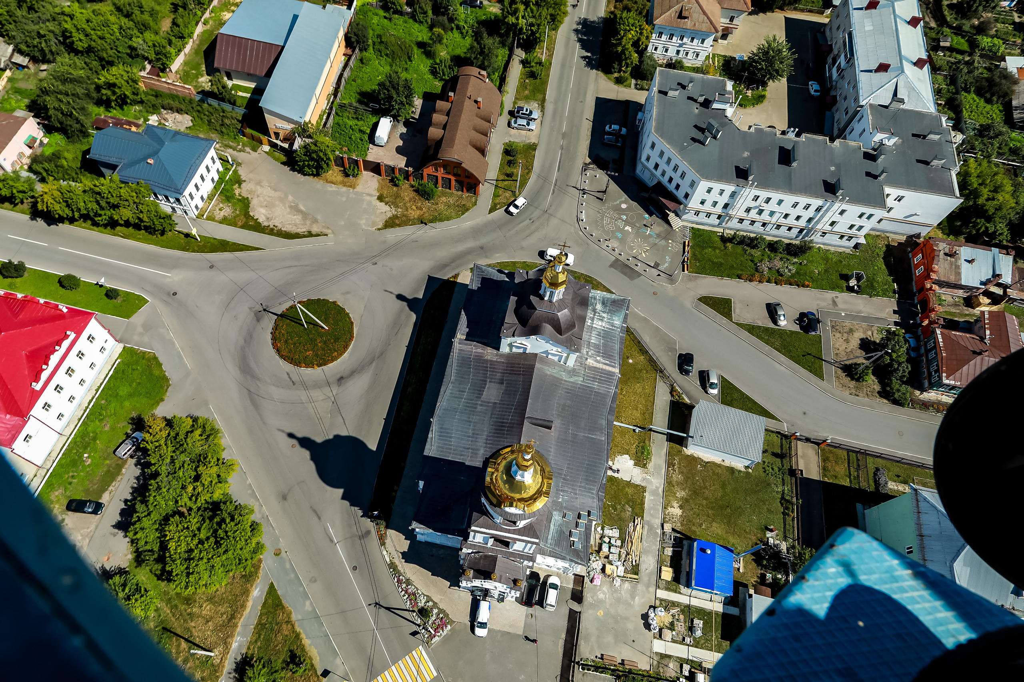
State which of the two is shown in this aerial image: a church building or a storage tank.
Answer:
church building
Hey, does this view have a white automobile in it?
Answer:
Yes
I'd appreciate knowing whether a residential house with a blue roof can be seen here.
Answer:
Yes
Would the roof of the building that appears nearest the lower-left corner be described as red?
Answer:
Yes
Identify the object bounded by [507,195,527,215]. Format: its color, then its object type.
white car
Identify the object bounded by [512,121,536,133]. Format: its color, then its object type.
gray vehicle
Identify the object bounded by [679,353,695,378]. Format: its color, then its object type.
black car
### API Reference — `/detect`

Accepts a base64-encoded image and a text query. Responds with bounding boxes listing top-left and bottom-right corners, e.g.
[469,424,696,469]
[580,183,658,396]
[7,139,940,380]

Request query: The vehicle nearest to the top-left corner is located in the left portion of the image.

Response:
[377,121,392,141]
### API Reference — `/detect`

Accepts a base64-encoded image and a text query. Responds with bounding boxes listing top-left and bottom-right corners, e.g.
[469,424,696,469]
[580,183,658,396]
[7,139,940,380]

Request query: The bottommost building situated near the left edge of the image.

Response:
[0,289,121,494]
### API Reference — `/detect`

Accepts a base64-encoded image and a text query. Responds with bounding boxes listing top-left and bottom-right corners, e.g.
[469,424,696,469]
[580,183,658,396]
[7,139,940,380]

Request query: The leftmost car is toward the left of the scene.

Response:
[64,500,108,518]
